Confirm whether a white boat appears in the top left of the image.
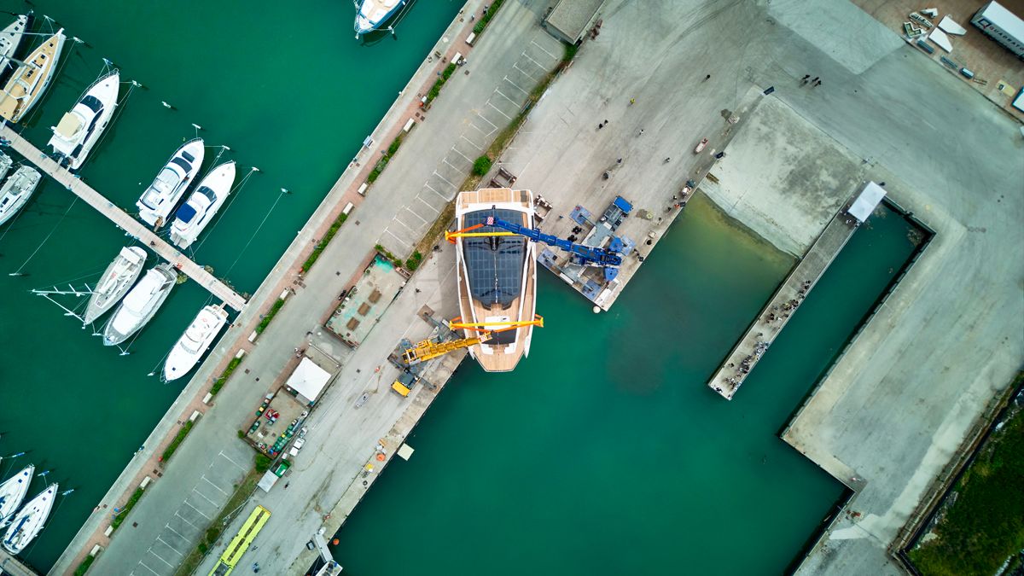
Yes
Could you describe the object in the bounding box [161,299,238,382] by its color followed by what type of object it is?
white boat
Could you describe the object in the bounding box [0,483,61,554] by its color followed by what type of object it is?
white boat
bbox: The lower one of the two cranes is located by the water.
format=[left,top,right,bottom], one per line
[384,308,496,404]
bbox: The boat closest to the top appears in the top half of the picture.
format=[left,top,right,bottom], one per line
[358,0,401,34]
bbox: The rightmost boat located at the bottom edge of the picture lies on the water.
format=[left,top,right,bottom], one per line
[316,555,345,576]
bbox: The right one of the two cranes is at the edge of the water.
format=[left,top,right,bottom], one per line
[479,189,641,292]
